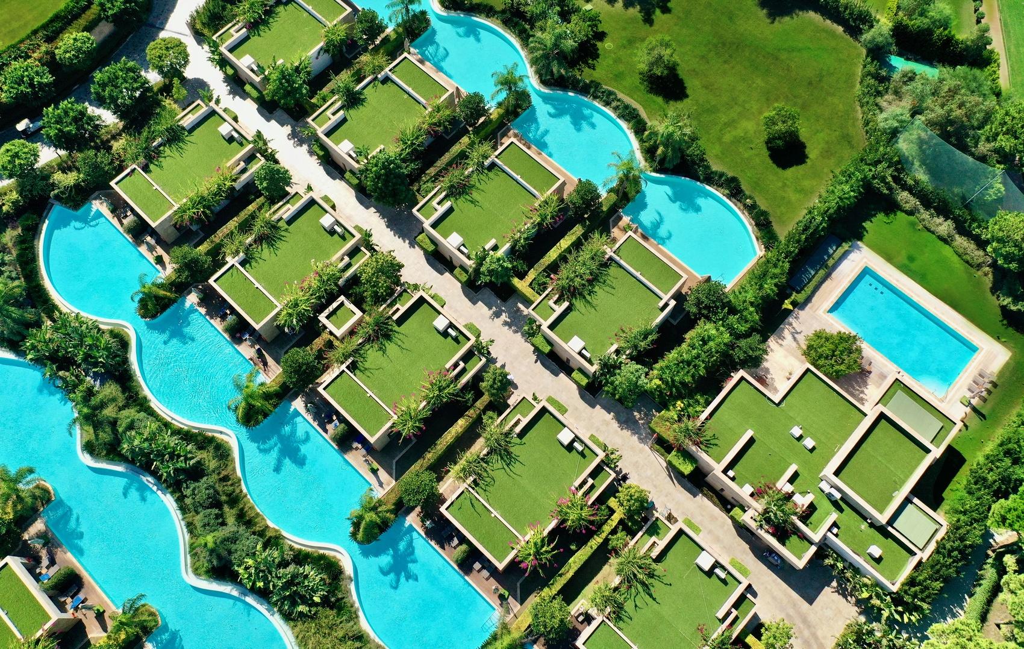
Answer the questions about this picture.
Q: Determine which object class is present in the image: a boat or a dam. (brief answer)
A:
dam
